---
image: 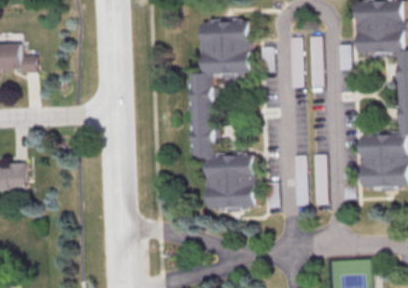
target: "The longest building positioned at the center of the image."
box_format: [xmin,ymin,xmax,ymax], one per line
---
[188,14,262,214]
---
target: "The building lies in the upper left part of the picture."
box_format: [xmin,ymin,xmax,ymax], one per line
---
[0,32,42,72]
